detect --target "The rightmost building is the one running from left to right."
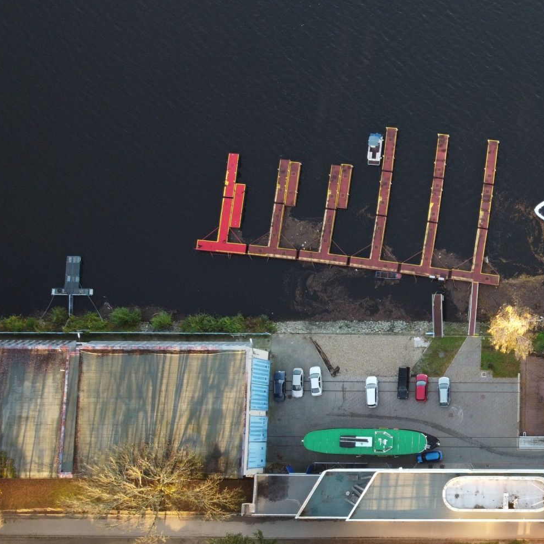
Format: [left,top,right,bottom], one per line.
[242,467,544,521]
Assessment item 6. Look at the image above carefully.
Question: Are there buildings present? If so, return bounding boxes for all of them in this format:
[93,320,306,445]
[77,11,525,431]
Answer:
[242,467,544,521]
[0,341,285,477]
